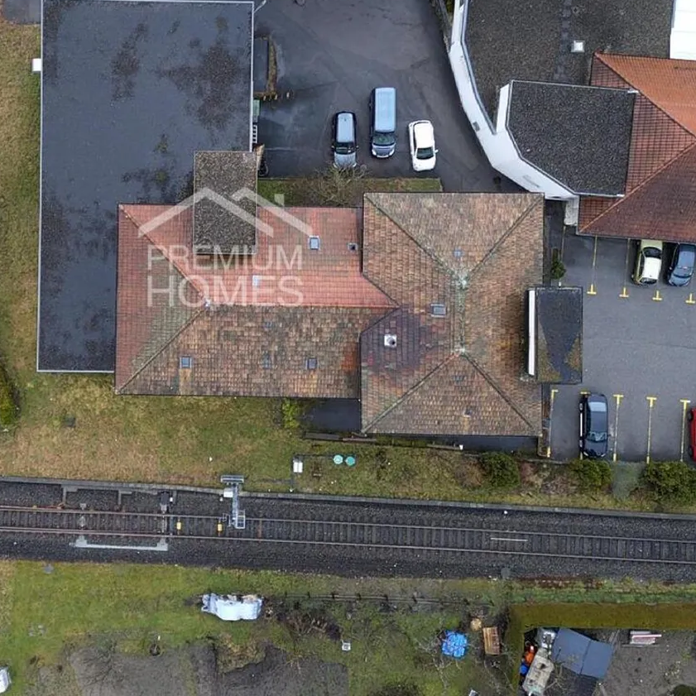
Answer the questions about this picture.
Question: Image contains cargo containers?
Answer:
No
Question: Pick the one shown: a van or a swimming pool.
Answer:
van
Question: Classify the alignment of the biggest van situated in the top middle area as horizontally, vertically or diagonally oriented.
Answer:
vertically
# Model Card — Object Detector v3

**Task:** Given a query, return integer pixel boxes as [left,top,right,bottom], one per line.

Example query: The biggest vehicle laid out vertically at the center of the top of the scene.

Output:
[367,86,399,158]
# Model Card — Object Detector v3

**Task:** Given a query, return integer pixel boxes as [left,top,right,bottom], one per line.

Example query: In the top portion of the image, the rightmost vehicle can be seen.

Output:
[665,243,696,289]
